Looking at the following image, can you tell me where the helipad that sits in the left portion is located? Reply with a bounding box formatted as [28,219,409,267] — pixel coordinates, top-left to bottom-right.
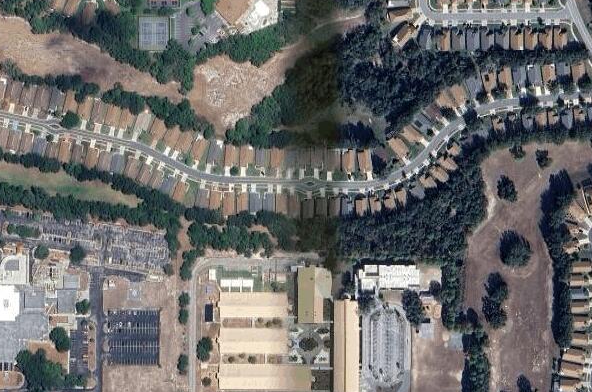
[128,284,142,300]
